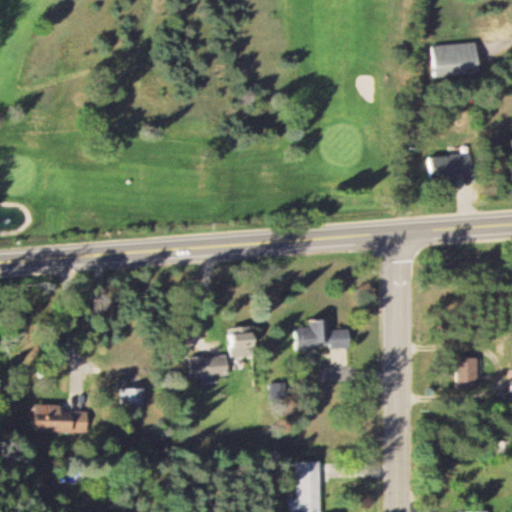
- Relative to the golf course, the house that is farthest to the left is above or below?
below it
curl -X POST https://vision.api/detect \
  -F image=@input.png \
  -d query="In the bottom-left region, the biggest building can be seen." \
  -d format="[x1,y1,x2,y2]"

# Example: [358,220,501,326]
[34,402,91,434]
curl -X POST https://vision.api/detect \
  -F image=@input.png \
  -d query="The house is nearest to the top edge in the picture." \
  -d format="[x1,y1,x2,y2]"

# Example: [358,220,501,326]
[432,42,482,80]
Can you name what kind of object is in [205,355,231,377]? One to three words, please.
building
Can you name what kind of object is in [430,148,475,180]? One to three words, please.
house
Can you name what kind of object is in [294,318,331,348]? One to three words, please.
house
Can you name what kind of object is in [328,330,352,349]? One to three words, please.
building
